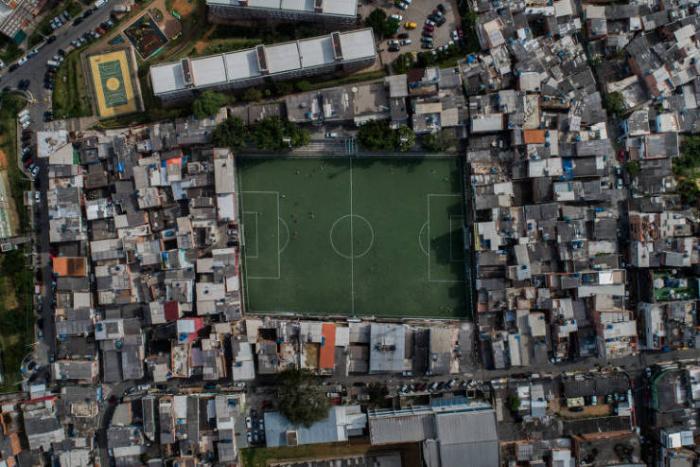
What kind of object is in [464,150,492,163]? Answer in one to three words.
house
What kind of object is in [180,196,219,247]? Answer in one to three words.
house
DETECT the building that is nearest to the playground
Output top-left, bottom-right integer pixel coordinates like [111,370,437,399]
[148,27,377,101]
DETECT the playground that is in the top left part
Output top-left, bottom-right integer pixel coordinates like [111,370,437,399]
[121,10,168,60]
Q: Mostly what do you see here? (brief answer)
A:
buildings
